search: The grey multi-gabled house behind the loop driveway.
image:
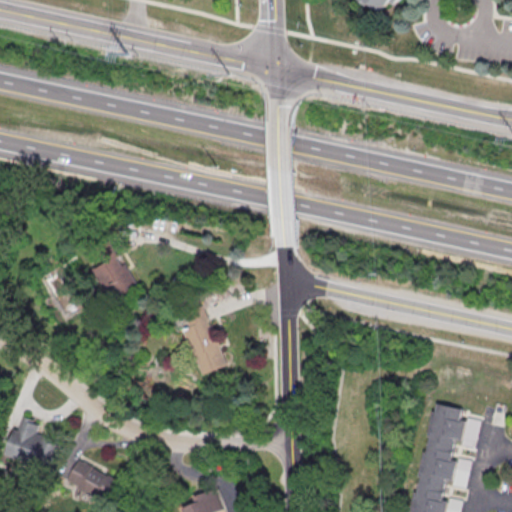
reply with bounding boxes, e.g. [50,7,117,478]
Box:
[2,416,58,460]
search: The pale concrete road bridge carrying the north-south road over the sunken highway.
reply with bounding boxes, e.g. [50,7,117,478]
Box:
[265,98,297,248]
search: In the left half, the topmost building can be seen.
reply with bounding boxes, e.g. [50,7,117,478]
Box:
[92,246,138,294]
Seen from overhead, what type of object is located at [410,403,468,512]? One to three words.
building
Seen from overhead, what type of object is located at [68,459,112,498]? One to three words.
house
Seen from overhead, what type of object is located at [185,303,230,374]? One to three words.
house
